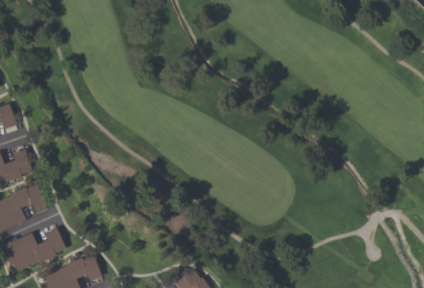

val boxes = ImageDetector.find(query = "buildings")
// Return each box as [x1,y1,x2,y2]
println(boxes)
[0,150,32,183]
[0,104,18,134]
[175,270,211,288]
[38,257,103,288]
[8,228,66,272]
[0,186,46,232]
